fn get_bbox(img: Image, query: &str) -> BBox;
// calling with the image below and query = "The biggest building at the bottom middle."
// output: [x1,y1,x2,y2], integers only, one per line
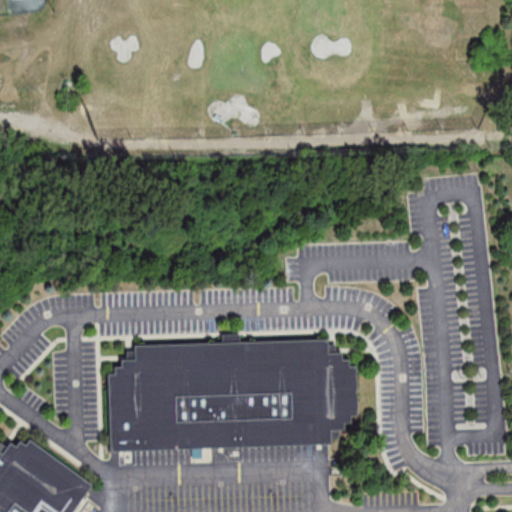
[108,334,358,453]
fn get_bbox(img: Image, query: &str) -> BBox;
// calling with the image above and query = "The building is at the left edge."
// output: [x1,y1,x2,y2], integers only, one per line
[0,442,94,512]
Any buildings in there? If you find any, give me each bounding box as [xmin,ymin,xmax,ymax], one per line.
[0,442,94,512]
[108,334,358,453]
